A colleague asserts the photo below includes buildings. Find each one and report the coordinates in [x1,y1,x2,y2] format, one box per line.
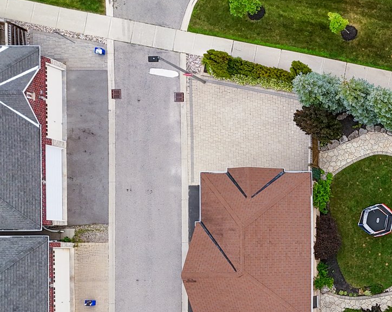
[0,235,82,312]
[180,167,322,312]
[0,43,85,233]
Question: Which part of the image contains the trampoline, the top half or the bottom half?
bottom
